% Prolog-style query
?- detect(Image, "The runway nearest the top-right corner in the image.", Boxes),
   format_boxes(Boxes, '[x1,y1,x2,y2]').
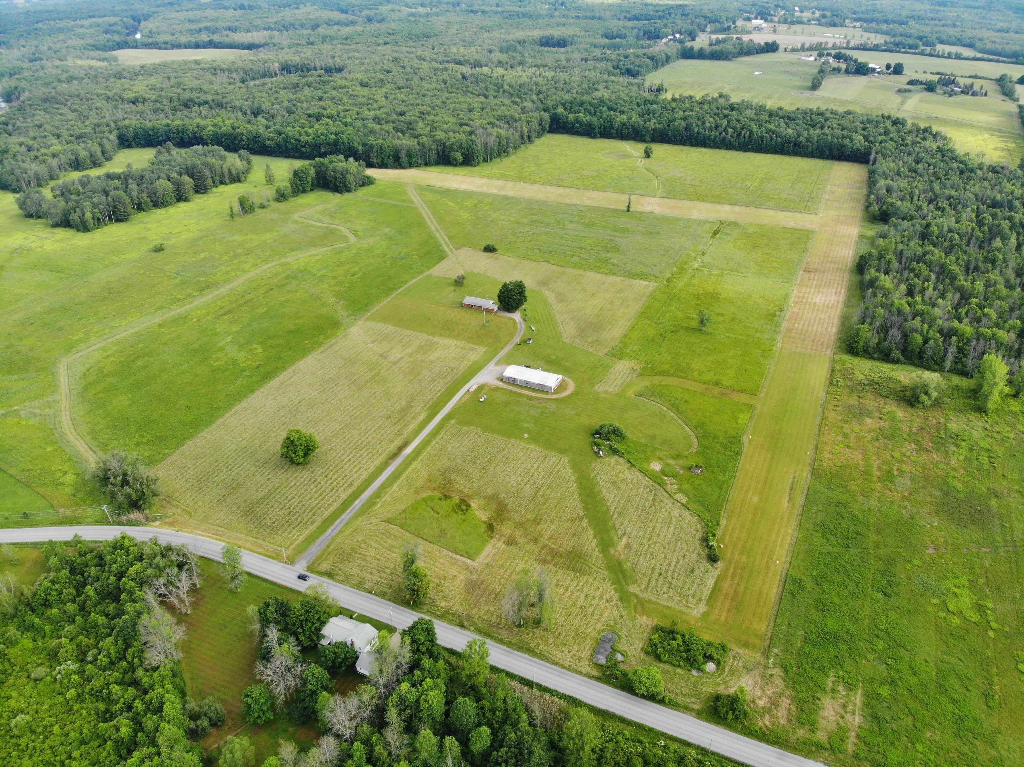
[782,162,867,353]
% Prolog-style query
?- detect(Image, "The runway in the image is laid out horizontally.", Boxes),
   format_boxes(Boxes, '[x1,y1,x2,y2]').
[367,168,819,230]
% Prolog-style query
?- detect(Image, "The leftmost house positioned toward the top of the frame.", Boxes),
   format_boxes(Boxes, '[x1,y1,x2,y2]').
[462,295,499,312]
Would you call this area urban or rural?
rural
